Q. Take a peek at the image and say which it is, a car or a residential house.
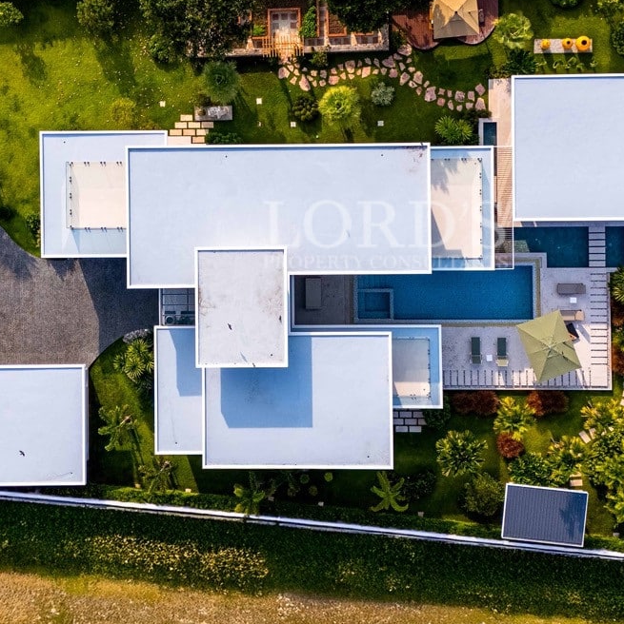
residential house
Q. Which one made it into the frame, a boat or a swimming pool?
swimming pool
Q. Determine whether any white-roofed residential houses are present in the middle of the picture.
Yes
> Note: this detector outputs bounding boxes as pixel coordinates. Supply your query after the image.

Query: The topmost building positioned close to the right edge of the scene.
[511,73,624,221]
